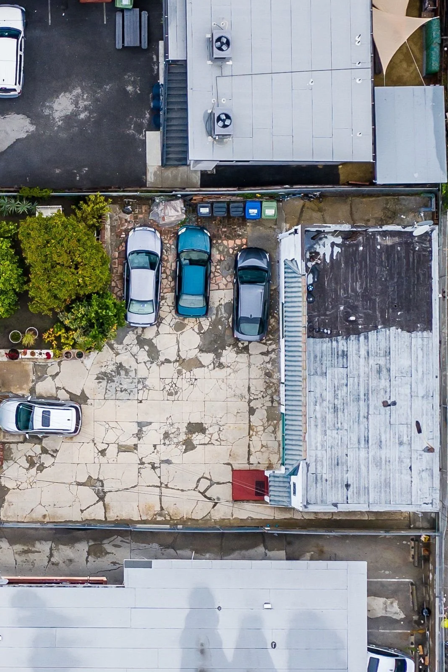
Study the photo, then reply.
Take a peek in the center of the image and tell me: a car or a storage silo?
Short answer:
car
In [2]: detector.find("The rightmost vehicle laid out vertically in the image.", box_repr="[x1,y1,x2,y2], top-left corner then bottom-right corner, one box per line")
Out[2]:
[232,247,280,342]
